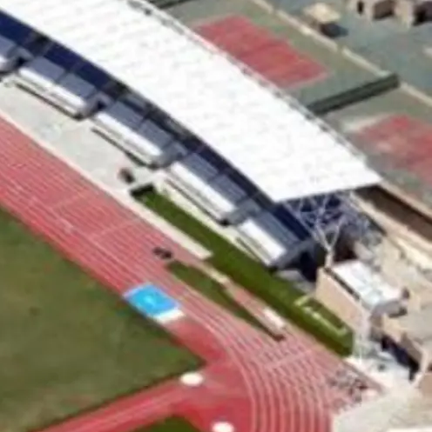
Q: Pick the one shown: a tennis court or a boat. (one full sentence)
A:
Visible in the photo is a tennis court.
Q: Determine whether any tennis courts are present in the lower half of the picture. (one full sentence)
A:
No, I see no tennis court in the lower half of the picture.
